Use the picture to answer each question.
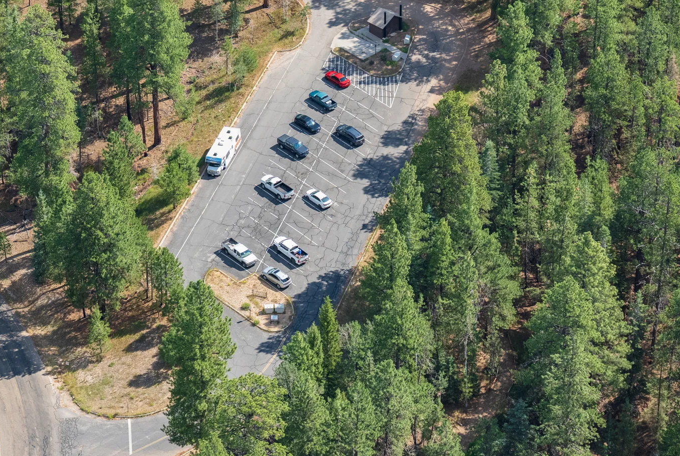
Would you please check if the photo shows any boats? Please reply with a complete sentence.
No, the picture doesn't show any boat.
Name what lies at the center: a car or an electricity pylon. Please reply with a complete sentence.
Looking at the center, you will find a car.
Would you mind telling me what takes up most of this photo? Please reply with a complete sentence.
What you mostly see from above here is trees.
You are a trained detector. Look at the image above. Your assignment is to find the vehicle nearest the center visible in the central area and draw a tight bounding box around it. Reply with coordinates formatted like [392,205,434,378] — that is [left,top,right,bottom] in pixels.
[304,188,333,209]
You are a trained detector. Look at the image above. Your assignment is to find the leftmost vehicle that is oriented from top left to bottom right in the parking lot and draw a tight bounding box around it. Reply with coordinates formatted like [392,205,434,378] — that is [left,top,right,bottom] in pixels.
[222,239,259,268]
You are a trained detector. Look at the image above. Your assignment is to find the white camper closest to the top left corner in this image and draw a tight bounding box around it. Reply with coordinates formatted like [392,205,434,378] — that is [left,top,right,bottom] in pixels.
[207,128,239,173]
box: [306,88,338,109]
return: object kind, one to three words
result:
truck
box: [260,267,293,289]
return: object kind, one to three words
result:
car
